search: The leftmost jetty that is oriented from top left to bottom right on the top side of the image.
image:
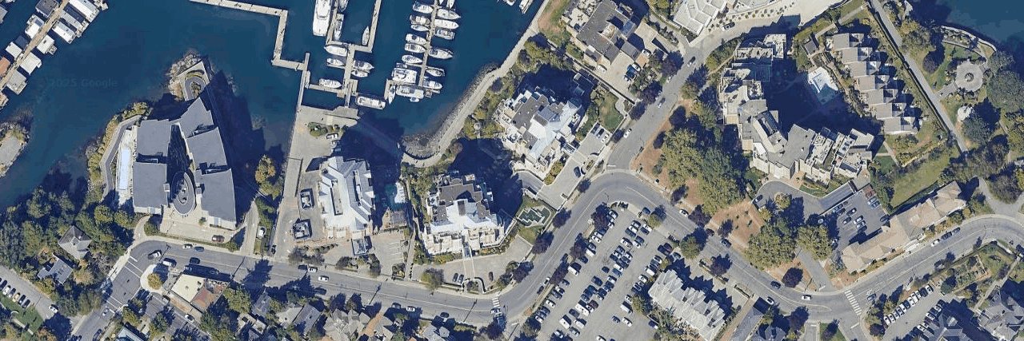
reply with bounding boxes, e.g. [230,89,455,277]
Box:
[188,0,308,72]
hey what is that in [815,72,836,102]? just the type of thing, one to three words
swimming pool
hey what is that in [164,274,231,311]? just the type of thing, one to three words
building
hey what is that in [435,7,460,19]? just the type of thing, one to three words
boat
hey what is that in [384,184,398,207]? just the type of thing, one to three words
swimming pool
